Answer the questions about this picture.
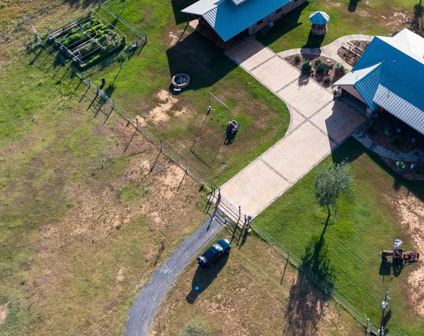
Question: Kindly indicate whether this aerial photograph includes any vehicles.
Yes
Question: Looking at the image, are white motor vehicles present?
No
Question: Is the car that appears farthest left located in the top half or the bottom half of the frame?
bottom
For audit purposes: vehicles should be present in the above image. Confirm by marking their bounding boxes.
[389,249,416,268]
[193,240,231,270]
